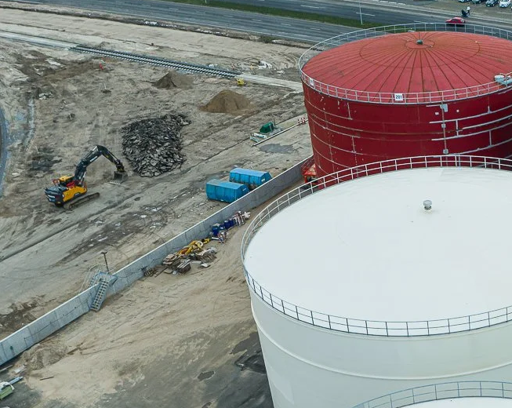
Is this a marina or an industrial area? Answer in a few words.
industrial area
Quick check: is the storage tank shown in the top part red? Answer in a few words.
Yes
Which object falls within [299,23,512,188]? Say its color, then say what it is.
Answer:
red storage tank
